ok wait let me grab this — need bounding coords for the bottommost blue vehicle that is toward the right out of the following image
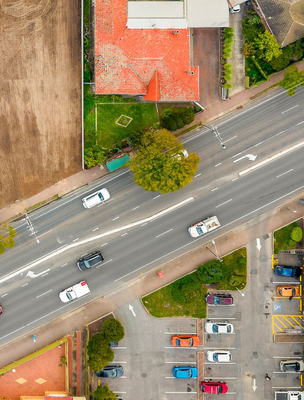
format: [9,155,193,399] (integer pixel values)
[172,365,197,379]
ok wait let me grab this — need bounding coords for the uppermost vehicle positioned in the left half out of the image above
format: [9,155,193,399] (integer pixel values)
[82,188,109,209]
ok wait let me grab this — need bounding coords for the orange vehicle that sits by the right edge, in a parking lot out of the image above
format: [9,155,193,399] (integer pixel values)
[275,284,300,297]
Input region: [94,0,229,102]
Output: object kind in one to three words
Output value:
house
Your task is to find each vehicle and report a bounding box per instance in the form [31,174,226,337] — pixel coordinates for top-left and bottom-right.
[60,280,92,302]
[200,380,228,394]
[274,264,302,278]
[171,334,198,348]
[172,365,197,379]
[205,292,233,306]
[82,188,109,209]
[96,365,123,378]
[275,284,300,297]
[206,320,232,333]
[76,251,105,270]
[275,389,304,400]
[107,339,123,351]
[280,359,304,372]
[207,349,231,362]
